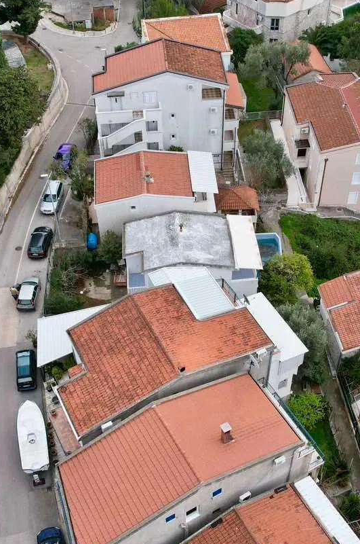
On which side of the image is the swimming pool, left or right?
right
